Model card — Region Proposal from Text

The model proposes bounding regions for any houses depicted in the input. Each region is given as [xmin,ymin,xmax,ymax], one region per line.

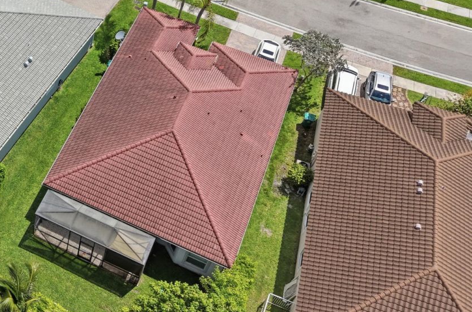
[292,86,472,312]
[0,0,105,162]
[41,5,299,277]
